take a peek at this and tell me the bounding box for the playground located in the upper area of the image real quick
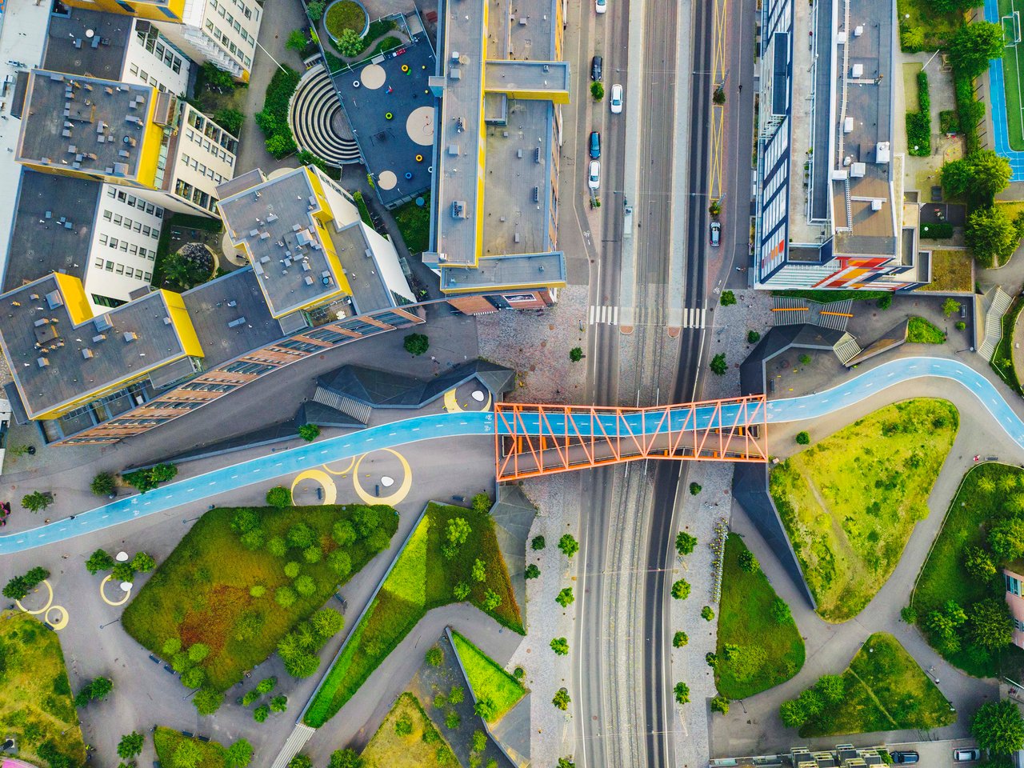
[333,35,434,209]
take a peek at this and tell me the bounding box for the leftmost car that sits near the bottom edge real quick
[887,748,922,766]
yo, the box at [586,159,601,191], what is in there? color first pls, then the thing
white car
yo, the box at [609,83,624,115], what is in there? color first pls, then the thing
white car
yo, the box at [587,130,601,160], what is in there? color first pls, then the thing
blue car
